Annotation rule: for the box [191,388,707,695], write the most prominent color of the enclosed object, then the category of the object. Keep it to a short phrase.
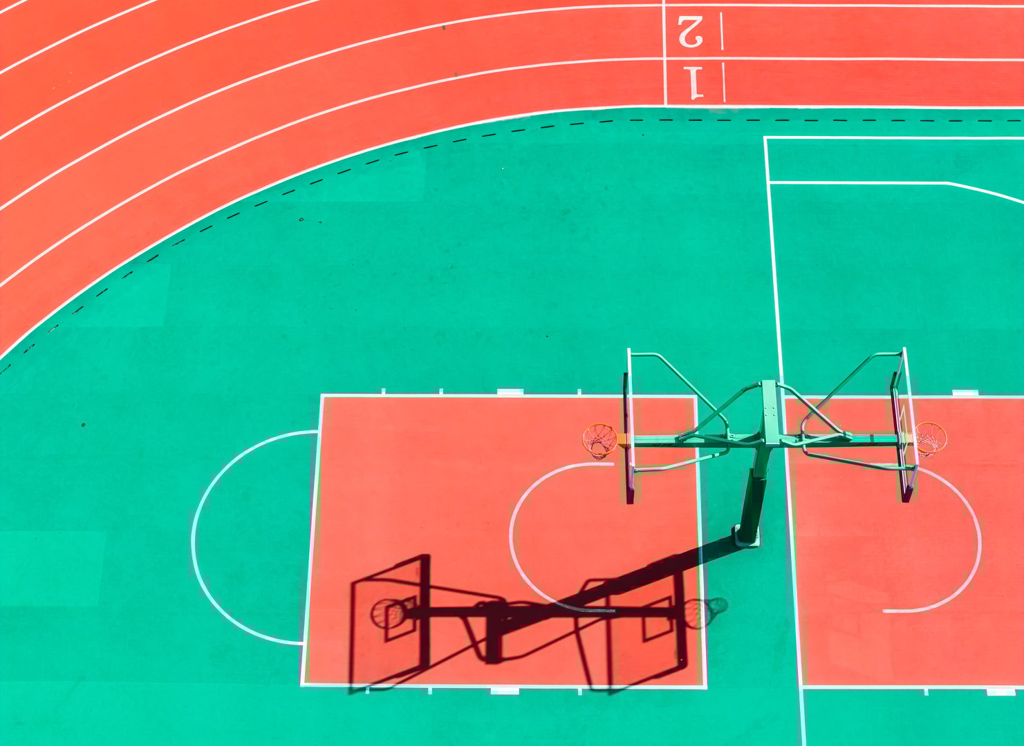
red basketball court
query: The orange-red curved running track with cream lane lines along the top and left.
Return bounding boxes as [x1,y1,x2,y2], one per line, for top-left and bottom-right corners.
[0,0,1024,359]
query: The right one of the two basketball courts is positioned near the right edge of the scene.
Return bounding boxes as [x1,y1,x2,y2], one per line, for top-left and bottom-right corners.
[764,136,1024,746]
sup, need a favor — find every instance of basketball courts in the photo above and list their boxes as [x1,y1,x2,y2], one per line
[764,136,1024,746]
[191,388,707,695]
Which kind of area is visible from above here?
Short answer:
sports ground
